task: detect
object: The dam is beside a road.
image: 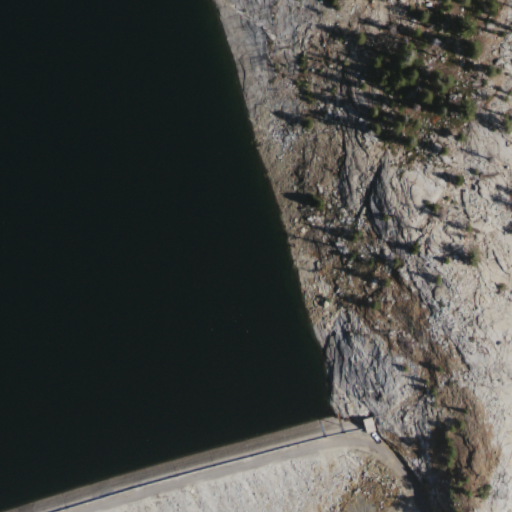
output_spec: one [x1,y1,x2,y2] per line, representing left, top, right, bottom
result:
[0,417,362,512]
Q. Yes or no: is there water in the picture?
Yes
